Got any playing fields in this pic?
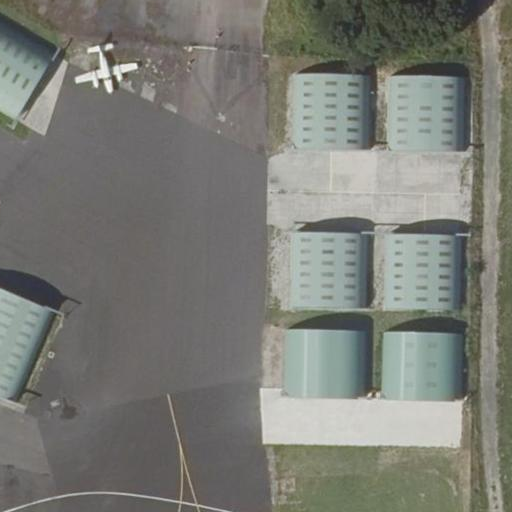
No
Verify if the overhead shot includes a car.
No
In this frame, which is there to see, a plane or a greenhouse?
plane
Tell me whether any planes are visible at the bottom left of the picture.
No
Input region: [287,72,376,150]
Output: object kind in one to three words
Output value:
hangar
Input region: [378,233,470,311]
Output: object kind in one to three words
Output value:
hangar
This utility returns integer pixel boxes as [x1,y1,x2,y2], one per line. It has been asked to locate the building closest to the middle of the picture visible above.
[286,232,375,310]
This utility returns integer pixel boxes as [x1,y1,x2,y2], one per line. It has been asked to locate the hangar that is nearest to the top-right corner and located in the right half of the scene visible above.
[383,73,474,150]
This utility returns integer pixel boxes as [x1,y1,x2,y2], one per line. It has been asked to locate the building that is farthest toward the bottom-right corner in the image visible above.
[382,331,466,402]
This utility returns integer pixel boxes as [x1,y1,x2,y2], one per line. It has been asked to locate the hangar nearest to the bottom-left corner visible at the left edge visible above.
[0,289,62,410]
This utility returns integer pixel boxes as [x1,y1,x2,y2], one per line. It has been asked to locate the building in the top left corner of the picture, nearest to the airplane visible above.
[0,17,58,120]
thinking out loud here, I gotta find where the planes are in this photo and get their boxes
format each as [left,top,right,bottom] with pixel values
[74,43,138,94]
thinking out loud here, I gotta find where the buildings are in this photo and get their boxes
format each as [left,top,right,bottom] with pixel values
[0,289,62,410]
[0,17,58,120]
[383,73,474,150]
[378,233,470,311]
[382,331,466,402]
[287,72,376,150]
[286,232,375,310]
[285,329,368,400]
